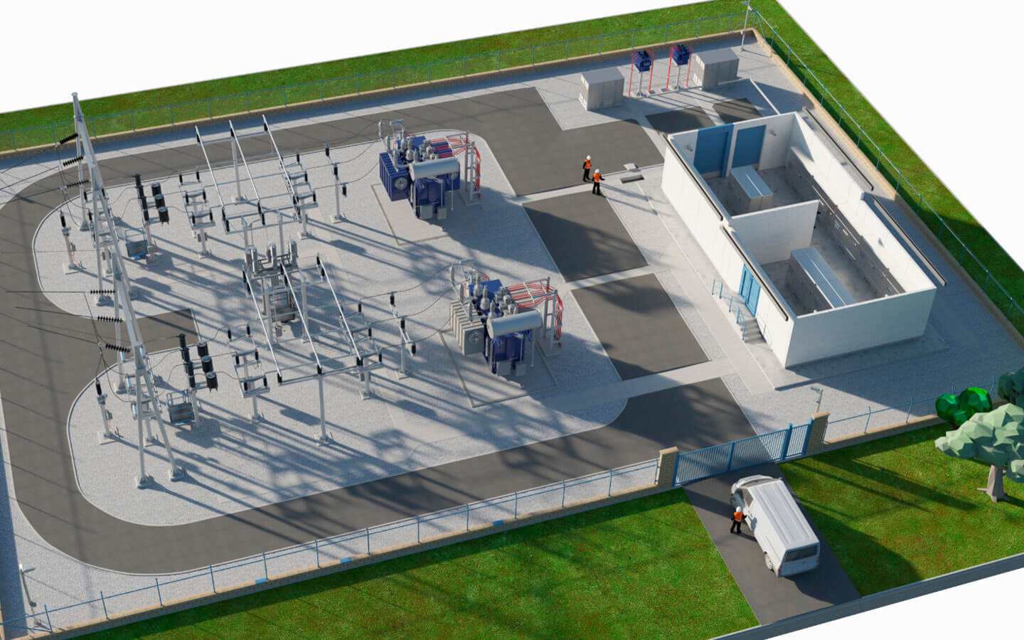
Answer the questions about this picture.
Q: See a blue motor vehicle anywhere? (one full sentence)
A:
No, I can't see a single blue motor vehicle in this photo.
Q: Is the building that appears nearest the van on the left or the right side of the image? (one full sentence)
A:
The building that appears nearest the van appears in the right half of the scene.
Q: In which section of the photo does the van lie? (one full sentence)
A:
Look in the bottom right portion of the view to spot the van.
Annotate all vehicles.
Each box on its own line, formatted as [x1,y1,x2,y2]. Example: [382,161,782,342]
[732,476,818,575]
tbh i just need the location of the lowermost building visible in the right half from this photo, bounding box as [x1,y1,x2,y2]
[660,109,950,368]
